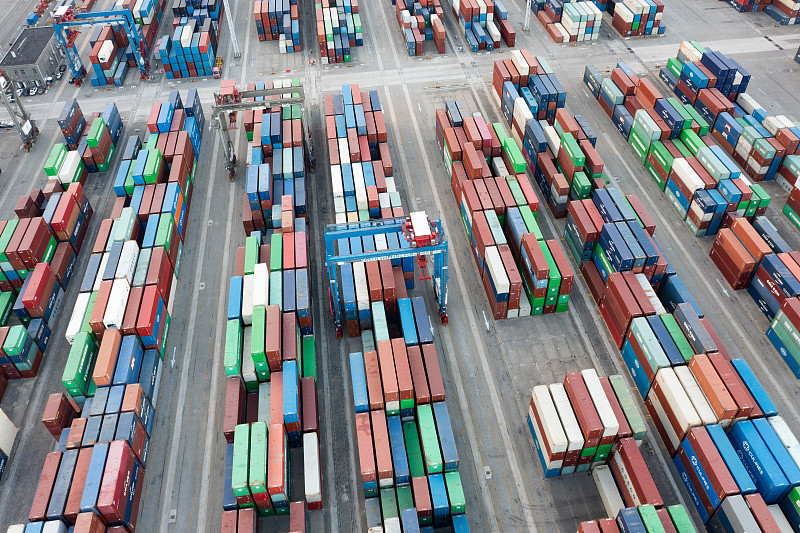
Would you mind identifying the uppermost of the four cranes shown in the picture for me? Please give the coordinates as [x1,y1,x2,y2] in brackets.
[51,5,150,85]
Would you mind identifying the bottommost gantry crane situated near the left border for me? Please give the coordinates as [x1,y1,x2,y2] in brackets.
[0,64,38,152]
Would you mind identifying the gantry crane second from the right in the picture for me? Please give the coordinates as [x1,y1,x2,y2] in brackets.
[211,81,316,183]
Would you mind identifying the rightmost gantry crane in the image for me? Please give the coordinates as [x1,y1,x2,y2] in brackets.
[320,212,450,342]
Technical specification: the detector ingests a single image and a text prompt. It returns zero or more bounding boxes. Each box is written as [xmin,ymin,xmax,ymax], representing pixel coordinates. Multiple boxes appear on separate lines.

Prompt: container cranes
[320,212,450,342]
[211,81,316,183]
[0,64,38,152]
[51,5,150,85]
